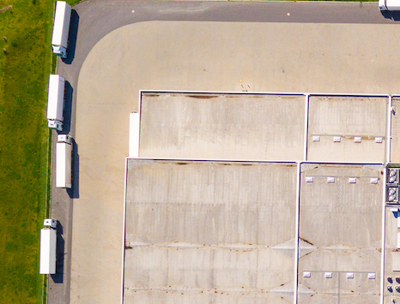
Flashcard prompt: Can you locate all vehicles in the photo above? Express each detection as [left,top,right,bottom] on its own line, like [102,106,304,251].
[377,0,400,11]
[52,0,74,58]
[57,134,74,190]
[40,219,59,275]
[48,73,66,132]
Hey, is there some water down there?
No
